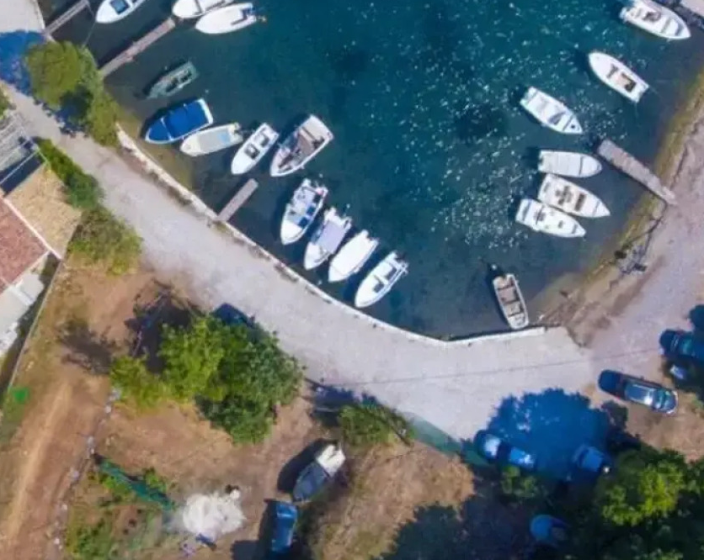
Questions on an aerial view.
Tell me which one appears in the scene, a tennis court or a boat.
boat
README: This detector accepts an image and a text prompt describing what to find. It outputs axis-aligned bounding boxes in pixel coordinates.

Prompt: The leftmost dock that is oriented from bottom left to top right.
[46,0,92,33]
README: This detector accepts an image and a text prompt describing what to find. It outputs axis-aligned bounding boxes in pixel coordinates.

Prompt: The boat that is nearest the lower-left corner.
[292,441,347,503]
